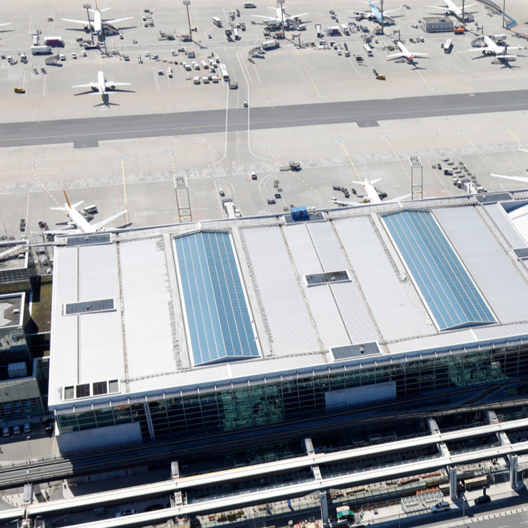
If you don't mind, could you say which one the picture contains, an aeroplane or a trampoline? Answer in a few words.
aeroplane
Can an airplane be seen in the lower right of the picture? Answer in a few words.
No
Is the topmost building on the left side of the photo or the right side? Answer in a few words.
right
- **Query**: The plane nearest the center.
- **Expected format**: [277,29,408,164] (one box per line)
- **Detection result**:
[324,157,420,202]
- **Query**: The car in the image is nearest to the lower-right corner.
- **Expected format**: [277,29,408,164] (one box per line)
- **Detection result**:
[472,491,493,504]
